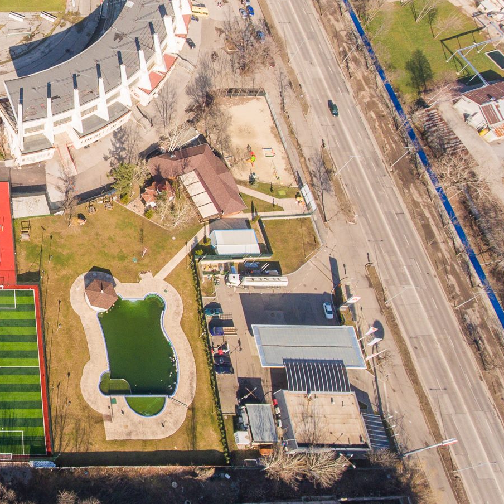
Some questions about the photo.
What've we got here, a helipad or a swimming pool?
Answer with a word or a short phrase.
swimming pool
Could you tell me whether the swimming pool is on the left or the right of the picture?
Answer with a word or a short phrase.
left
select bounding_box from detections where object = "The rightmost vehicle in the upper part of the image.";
[327,101,340,115]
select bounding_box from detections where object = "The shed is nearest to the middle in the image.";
[207,231,262,254]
